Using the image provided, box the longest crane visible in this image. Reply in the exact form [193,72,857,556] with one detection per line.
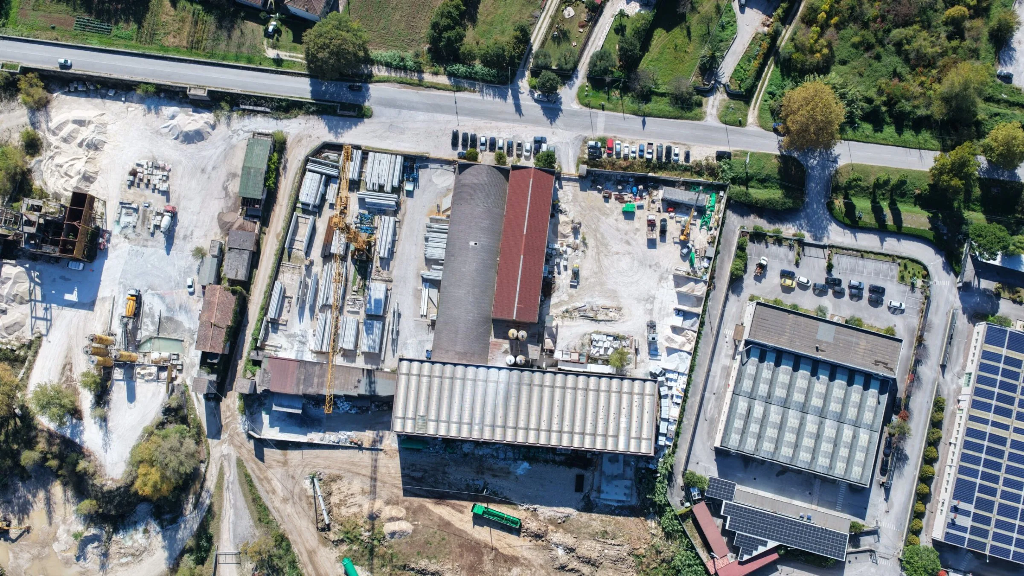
[325,146,372,412]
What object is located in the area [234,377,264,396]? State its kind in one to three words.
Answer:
shed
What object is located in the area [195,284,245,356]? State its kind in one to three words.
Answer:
house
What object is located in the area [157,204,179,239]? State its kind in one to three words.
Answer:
truck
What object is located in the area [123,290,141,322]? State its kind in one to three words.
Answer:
vehicle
